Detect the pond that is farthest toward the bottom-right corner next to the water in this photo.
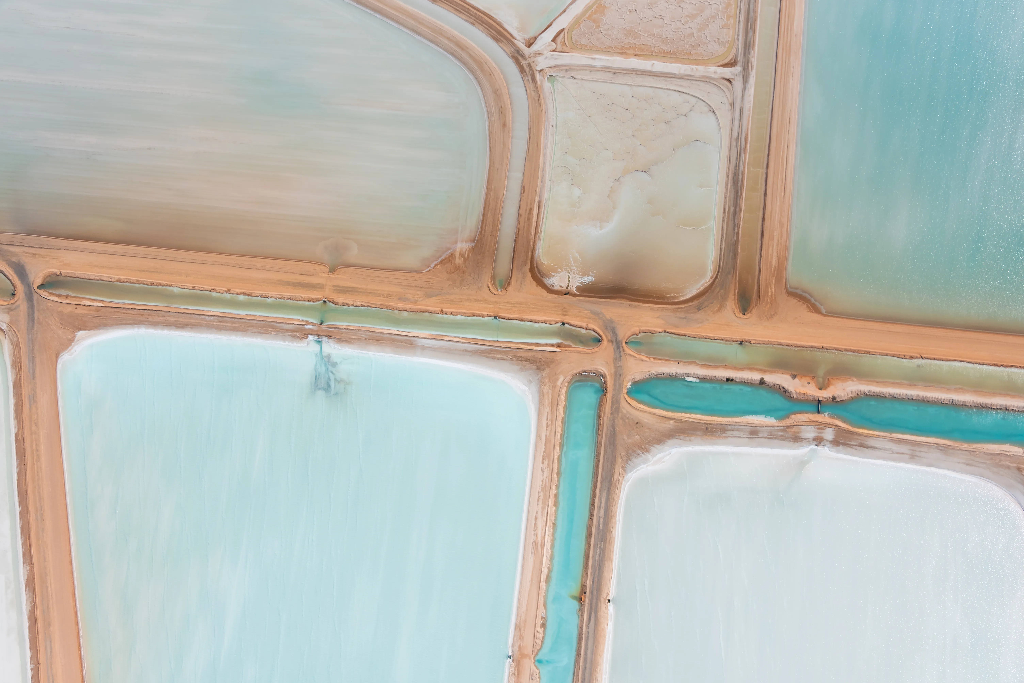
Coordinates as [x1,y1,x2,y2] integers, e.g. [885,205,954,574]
[606,451,1024,683]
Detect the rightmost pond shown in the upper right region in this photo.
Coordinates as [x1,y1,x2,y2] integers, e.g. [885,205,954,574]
[786,0,1024,335]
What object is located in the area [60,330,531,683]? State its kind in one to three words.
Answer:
pond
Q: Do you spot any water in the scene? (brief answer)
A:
Yes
